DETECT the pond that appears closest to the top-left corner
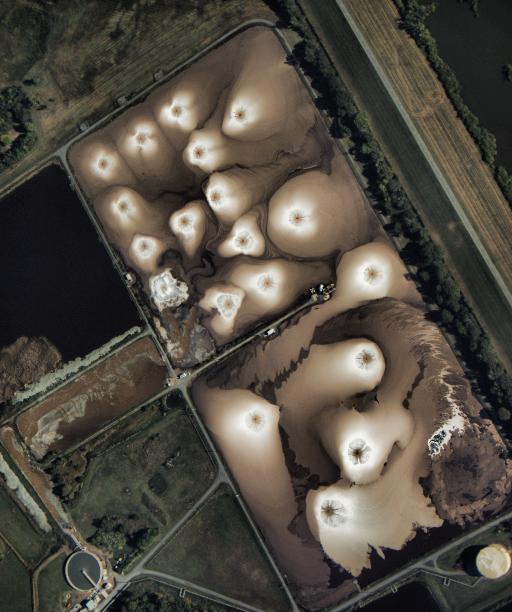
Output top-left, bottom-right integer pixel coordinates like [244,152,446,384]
[0,163,144,405]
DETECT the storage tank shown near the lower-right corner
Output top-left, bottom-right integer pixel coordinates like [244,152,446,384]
[476,543,512,580]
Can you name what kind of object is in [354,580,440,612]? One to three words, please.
pond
